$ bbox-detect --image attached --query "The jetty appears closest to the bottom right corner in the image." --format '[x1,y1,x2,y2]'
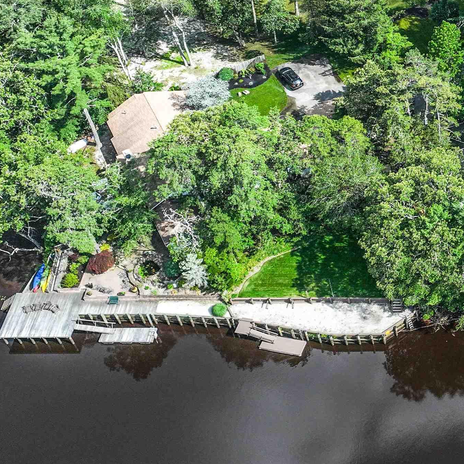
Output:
[259,337,307,358]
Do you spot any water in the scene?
Yes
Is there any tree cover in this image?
Yes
